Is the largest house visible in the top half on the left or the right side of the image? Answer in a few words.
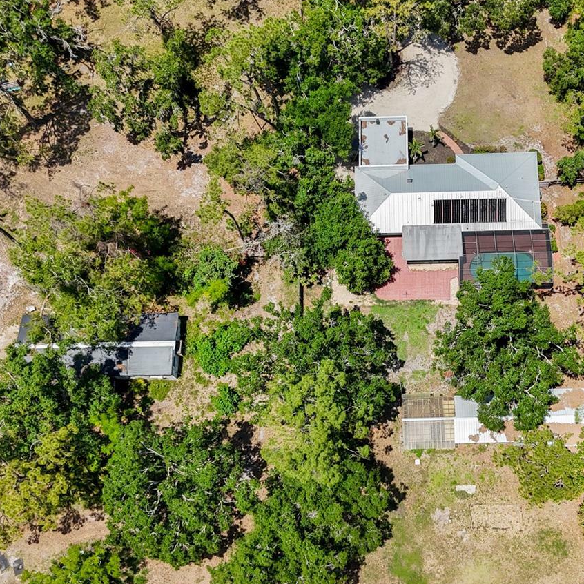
right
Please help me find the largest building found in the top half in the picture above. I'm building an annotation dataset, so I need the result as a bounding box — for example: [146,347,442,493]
[353,152,541,266]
